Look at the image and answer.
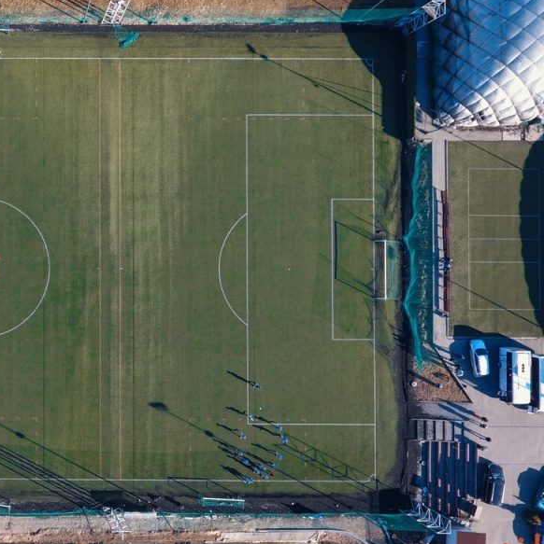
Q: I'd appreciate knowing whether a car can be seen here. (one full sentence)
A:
Yes, you can see a car in this photo.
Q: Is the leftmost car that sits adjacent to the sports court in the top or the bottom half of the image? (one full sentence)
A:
It is in the bottom half that the leftmost car that sits adjacent to the sports court appears.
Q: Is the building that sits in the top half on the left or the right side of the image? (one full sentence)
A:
It is on the right.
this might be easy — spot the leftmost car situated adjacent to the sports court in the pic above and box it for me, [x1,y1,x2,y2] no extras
[465,338,489,378]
